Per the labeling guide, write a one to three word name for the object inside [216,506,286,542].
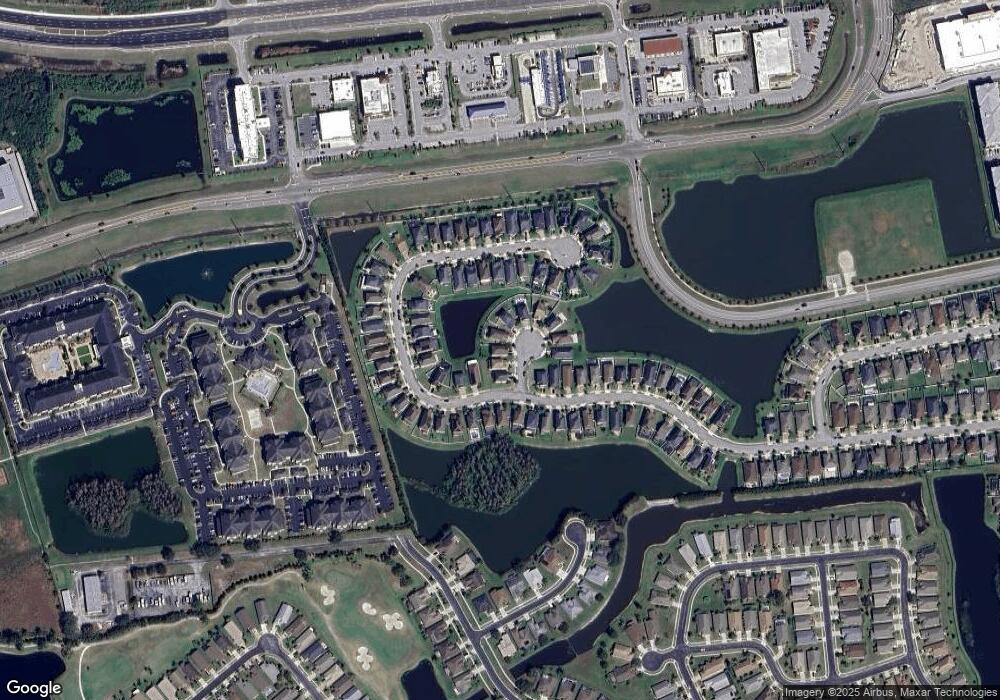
building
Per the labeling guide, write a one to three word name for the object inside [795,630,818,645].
house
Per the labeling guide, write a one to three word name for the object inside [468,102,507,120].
building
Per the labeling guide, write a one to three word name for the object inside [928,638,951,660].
house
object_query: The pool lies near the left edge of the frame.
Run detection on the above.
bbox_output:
[42,351,62,374]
